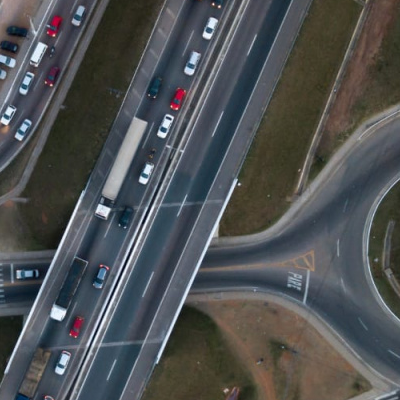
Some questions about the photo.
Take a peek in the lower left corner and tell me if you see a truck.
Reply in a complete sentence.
Yes, a truck can be seen in the lower left corner.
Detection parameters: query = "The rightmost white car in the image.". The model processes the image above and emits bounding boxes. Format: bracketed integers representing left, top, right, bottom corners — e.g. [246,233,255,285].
[202,16,218,40]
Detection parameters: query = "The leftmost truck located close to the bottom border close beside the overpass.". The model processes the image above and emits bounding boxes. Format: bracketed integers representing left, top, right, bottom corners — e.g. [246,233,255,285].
[16,347,50,400]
